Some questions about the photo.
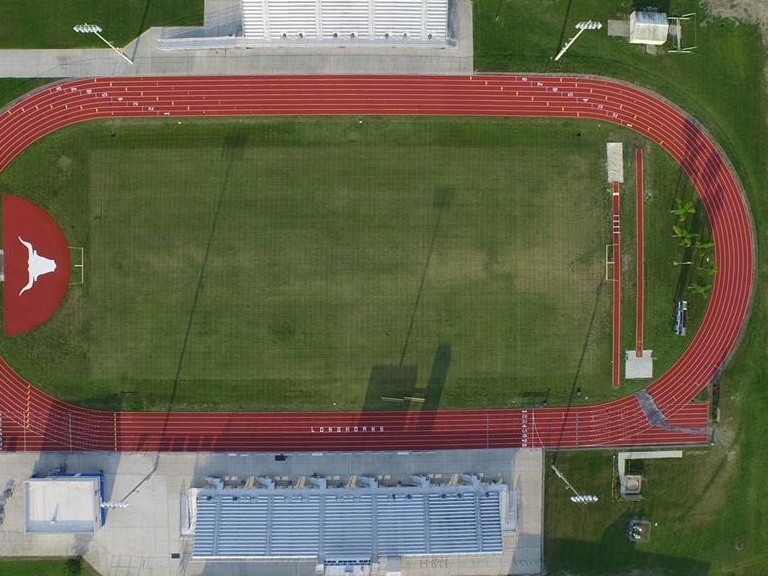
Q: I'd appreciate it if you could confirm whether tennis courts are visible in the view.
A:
No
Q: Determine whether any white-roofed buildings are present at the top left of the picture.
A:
No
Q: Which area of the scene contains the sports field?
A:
center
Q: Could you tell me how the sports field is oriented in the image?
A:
horizontally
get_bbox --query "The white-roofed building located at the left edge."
[23,472,104,534]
